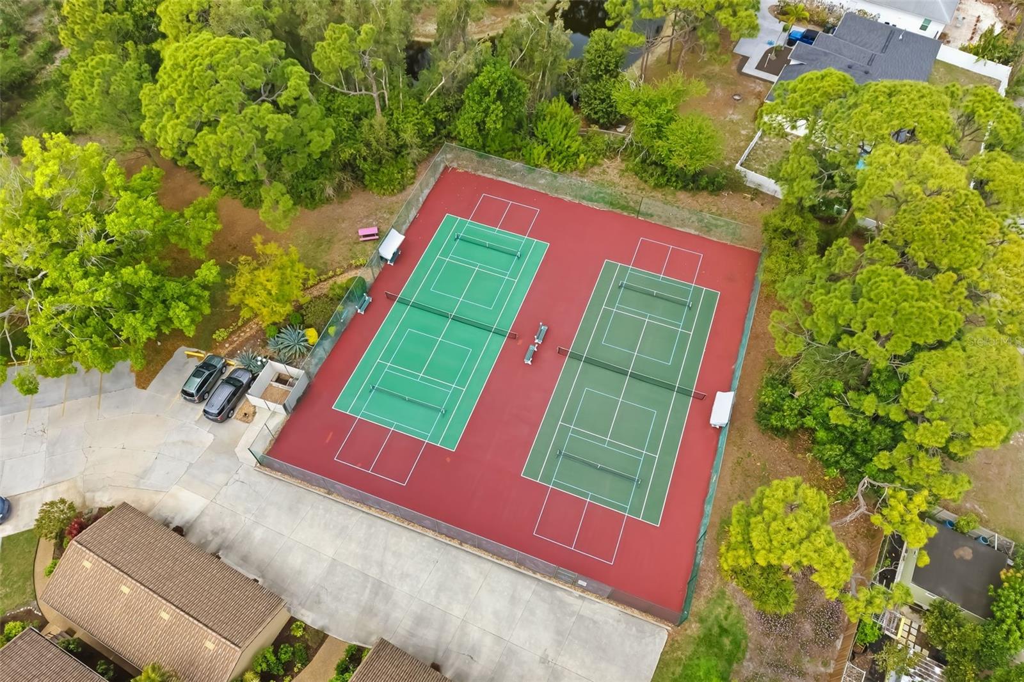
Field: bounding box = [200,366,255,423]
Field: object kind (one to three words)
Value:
car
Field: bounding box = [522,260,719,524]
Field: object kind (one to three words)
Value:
tennis court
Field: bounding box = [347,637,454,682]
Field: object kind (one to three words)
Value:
house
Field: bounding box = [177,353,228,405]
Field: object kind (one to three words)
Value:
car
